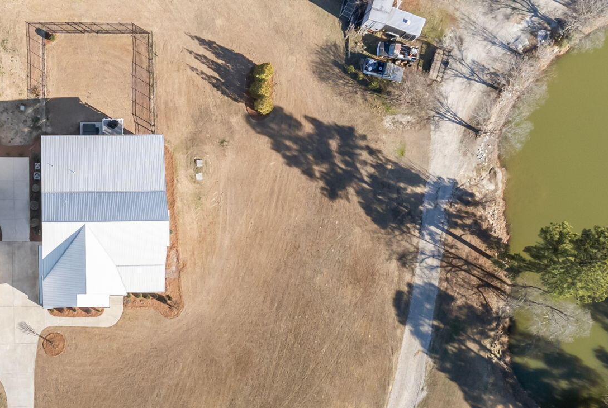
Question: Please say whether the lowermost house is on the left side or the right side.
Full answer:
The lowermost house sits on the left side.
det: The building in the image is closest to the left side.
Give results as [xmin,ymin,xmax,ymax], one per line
[37,133,170,307]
